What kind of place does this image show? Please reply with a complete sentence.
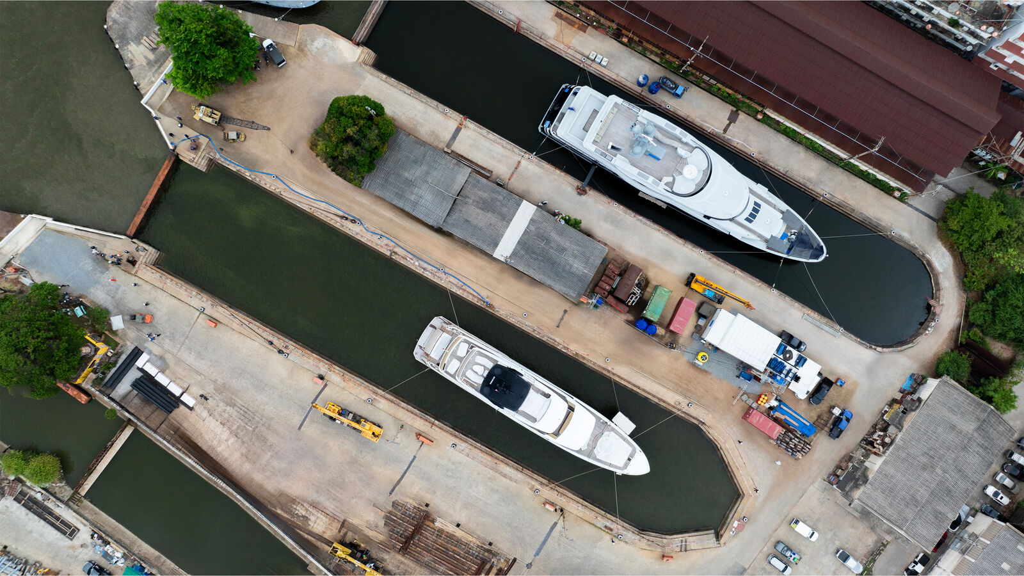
What you see here is a port.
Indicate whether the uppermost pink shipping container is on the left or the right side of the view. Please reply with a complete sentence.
The uppermost pink shipping container appears in the right half of the scene.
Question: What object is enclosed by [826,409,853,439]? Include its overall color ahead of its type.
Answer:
blue truck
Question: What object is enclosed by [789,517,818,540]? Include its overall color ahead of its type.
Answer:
white vehicle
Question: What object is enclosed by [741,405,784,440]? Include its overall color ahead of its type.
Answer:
pink shipping container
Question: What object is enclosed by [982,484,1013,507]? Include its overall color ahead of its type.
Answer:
white car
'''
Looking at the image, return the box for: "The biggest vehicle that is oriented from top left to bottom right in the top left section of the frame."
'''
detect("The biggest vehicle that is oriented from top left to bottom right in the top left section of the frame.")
[262,39,287,69]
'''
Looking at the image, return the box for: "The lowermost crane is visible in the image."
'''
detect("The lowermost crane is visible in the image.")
[328,539,389,576]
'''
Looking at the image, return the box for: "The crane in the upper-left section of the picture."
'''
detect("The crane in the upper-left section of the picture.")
[191,103,272,132]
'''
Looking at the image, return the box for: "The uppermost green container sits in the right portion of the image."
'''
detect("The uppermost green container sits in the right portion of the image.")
[641,284,672,322]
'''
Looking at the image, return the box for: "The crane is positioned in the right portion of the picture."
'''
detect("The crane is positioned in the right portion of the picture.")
[683,273,756,310]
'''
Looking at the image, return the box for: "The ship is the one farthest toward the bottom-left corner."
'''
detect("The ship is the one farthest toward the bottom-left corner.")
[59,384,94,404]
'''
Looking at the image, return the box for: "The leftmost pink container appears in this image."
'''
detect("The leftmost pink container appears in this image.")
[665,296,697,335]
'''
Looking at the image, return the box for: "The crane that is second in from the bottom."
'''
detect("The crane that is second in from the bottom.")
[310,400,385,442]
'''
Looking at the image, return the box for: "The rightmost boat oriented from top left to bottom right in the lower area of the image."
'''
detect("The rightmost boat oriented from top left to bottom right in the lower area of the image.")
[413,316,650,475]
